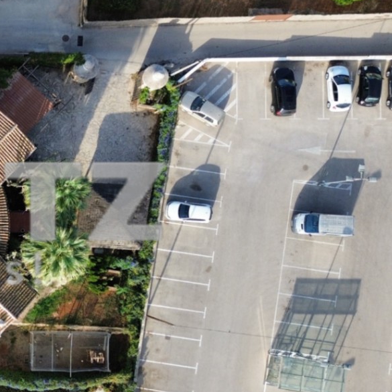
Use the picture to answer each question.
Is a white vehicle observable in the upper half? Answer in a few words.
Yes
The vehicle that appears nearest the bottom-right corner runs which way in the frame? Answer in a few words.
from left to right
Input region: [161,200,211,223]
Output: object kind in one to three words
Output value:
car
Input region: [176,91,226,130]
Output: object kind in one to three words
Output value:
car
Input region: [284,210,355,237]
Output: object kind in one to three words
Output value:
vehicle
